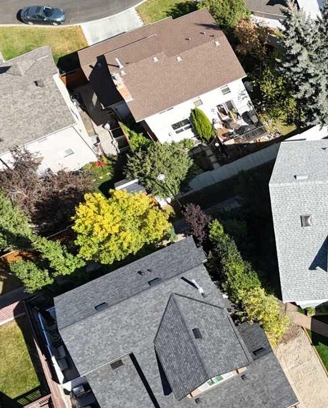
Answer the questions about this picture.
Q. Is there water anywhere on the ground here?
No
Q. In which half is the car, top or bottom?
top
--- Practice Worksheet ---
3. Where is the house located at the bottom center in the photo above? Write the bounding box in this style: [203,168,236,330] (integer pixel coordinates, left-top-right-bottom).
[53,235,299,408]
